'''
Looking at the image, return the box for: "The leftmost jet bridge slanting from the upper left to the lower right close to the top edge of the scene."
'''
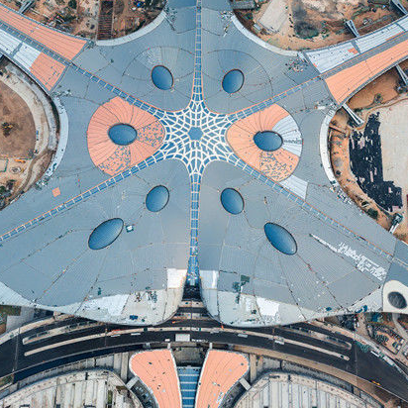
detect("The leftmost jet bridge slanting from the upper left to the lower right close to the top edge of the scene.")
[342,18,363,41]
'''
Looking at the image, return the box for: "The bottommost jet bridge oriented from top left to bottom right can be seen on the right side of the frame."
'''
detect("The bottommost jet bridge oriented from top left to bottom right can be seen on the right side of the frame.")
[342,101,367,129]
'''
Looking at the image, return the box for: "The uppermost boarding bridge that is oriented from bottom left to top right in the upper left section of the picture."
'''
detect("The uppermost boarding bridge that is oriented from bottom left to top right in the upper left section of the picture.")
[18,0,37,15]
